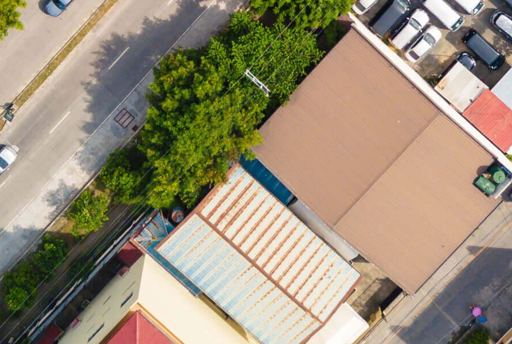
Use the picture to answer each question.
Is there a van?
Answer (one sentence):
Yes, you can see a van in this photo.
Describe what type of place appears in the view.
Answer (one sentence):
The area seen from above is an industrial area.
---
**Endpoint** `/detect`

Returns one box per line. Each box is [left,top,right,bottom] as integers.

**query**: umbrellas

[471,305,483,317]
[477,315,487,324]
